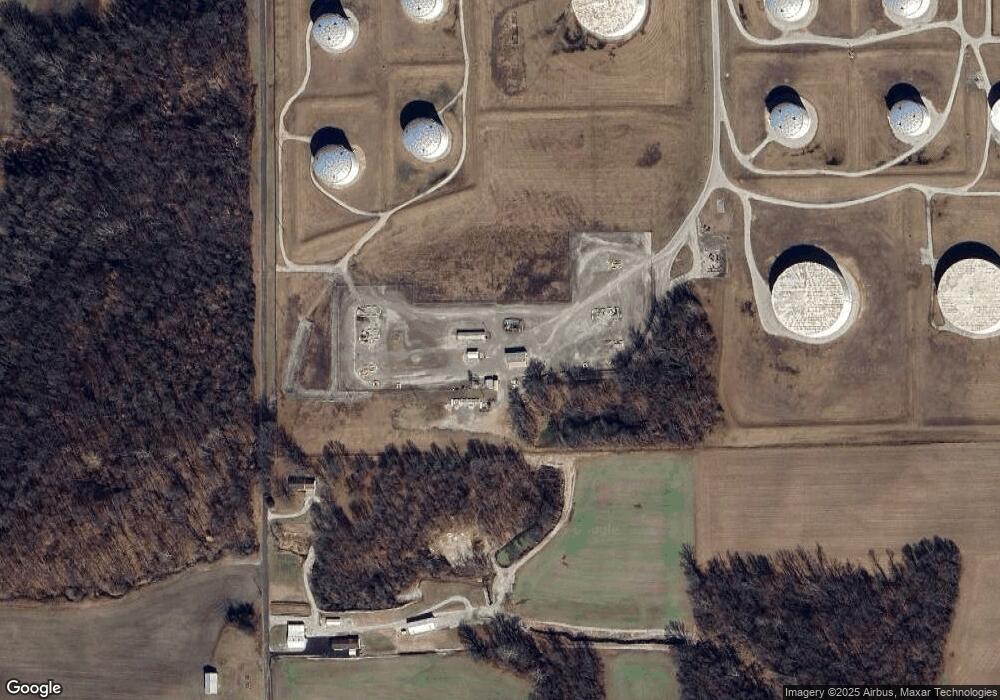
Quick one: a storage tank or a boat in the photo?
storage tank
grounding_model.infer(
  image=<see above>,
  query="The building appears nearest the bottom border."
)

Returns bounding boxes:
[205,673,220,697]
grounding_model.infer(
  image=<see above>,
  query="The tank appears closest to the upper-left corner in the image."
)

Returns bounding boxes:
[312,13,354,51]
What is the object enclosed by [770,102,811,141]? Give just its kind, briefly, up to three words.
storage tank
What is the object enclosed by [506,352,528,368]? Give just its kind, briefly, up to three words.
building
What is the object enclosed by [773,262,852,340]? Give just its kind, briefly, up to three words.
storage tank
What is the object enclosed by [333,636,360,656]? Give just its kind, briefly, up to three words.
house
